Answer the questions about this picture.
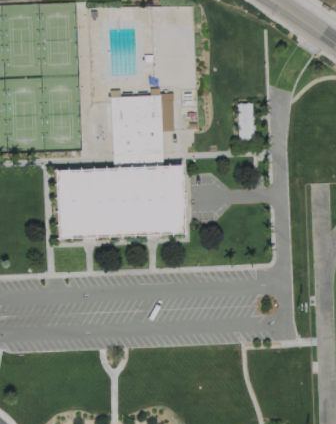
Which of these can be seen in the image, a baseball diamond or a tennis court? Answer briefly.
tennis court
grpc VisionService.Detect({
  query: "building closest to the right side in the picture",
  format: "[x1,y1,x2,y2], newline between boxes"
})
[238,103,255,140]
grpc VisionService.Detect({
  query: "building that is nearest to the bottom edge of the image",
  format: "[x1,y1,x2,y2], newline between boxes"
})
[54,164,186,242]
